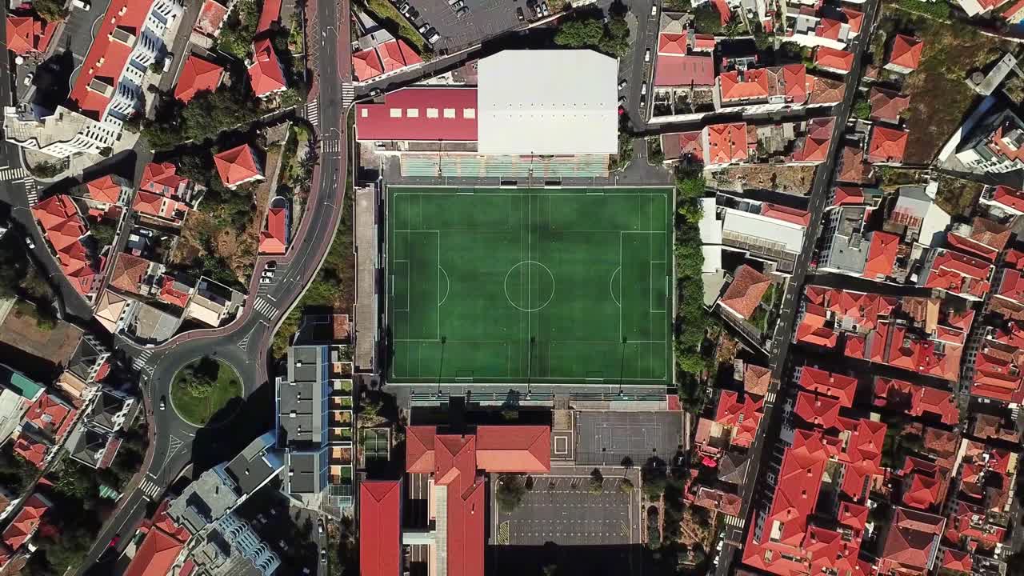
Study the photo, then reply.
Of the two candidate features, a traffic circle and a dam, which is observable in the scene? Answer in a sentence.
Looking from above, you can make out a traffic circle.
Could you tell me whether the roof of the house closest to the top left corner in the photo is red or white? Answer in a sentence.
In this view, the roof of the house closest to the top left corner is red.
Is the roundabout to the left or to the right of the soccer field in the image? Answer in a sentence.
The roundabout can be seen on the left of the soccer field.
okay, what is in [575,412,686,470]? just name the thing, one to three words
sports court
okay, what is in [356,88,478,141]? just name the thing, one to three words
building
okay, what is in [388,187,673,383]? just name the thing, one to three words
soccer field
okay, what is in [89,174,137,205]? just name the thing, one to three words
house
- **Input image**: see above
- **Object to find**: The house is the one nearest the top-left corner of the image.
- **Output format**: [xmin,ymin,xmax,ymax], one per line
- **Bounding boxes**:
[6,17,64,54]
